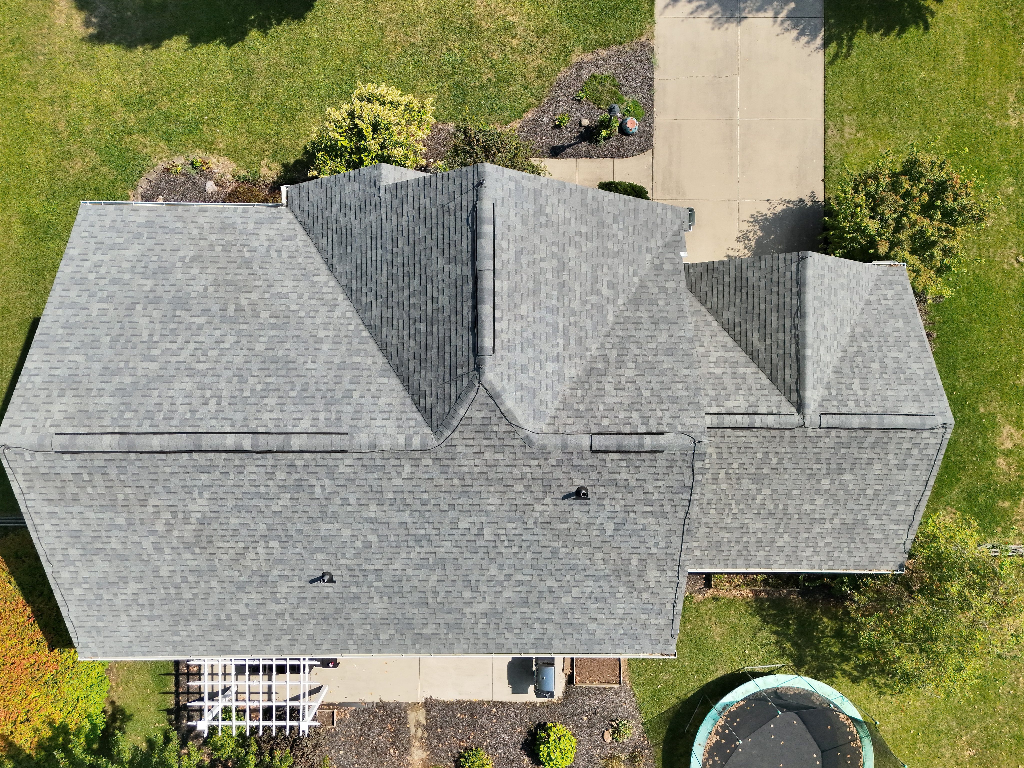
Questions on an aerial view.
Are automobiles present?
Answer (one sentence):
No, no automobile is visible in the scene.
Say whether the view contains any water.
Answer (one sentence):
No, there's no water in this view.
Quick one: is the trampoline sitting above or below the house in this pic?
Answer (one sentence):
The trampoline is located below the house in this view.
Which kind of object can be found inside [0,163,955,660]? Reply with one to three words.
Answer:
house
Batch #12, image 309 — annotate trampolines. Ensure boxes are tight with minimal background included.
[685,662,908,768]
